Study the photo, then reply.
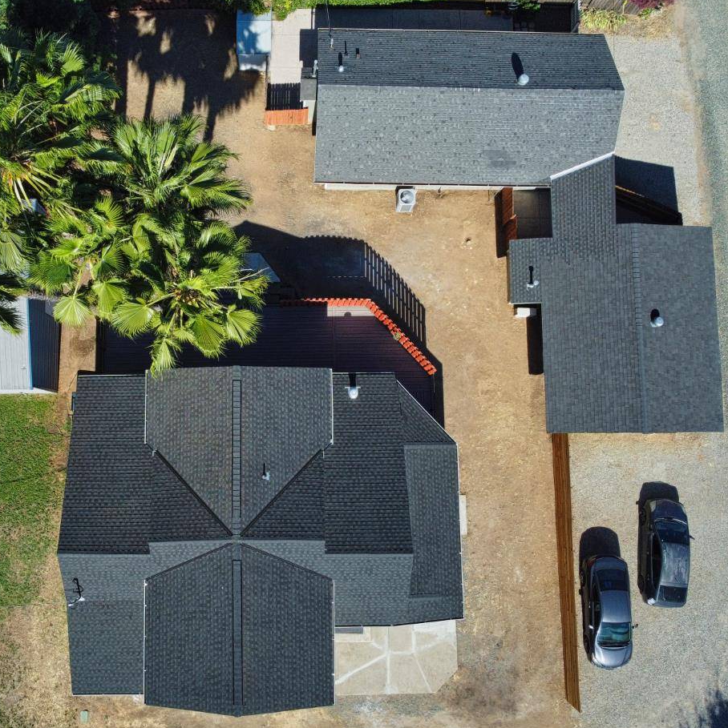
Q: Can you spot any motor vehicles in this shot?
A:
Yes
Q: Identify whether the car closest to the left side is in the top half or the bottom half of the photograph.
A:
bottom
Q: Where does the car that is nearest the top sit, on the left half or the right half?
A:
right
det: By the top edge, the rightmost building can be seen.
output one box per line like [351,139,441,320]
[296,28,623,194]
